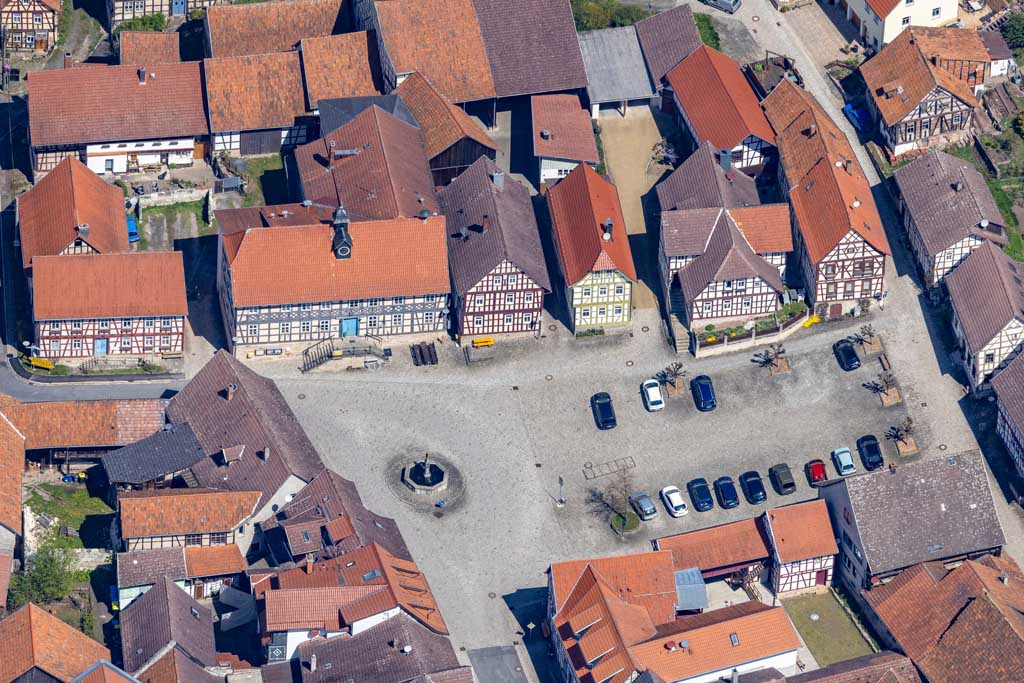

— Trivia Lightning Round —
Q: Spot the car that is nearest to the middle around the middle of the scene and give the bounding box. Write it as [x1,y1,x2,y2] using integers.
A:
[592,390,615,426]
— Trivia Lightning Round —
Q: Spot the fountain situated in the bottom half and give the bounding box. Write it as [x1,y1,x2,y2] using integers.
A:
[387,454,465,514]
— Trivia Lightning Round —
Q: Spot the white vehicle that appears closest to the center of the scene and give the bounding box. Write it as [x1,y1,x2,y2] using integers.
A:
[642,374,666,411]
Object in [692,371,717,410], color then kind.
blue car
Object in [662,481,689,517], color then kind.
white car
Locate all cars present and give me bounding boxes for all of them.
[628,486,659,522]
[833,334,862,369]
[692,371,717,410]
[769,457,798,495]
[804,452,831,488]
[857,430,886,469]
[831,439,859,477]
[592,390,615,426]
[739,465,768,504]
[688,474,715,511]
[662,481,689,517]
[642,374,666,411]
[714,471,740,508]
